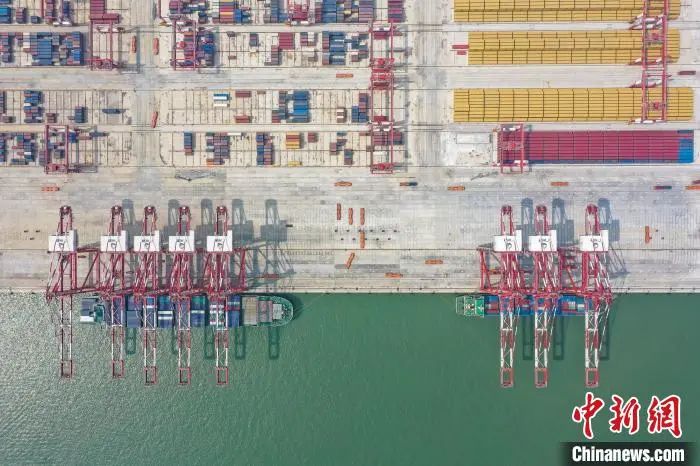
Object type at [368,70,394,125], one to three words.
container crane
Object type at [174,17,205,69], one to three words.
container crane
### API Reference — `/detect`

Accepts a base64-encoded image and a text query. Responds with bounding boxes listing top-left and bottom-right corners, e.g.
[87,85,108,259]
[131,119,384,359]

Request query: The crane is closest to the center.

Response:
[368,123,394,174]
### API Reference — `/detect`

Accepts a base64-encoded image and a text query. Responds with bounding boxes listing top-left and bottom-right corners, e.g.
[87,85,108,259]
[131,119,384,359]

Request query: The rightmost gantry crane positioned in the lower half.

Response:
[556,202,614,387]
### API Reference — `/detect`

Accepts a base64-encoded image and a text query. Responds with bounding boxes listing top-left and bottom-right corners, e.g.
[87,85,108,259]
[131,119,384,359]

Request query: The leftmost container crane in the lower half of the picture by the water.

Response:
[42,203,106,377]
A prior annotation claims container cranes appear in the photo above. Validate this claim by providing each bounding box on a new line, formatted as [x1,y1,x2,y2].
[96,203,151,377]
[206,203,249,384]
[286,0,312,26]
[42,203,106,377]
[46,123,85,175]
[368,123,394,174]
[510,202,559,387]
[478,202,523,387]
[158,0,191,26]
[556,202,614,387]
[90,18,126,74]
[368,17,394,71]
[368,70,394,125]
[131,203,183,384]
[174,17,205,69]
[491,122,524,174]
[167,203,215,384]
[626,70,667,125]
[40,0,79,26]
[626,16,667,68]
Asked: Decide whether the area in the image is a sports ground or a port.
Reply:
port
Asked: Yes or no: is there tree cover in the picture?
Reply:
No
